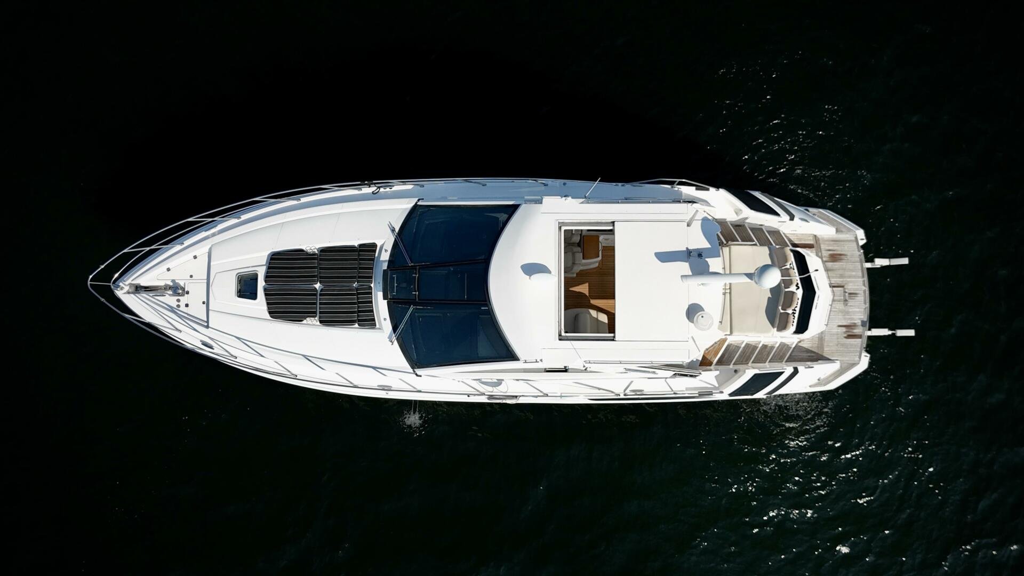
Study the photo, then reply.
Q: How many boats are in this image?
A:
1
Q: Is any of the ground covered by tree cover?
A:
No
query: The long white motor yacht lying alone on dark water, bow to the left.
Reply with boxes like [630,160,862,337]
[87,177,914,404]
